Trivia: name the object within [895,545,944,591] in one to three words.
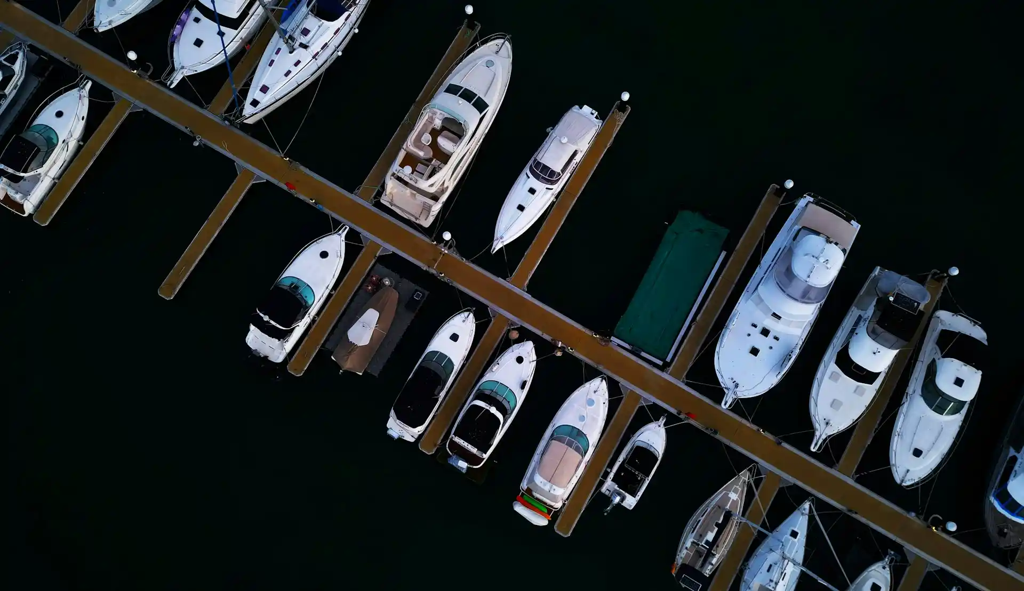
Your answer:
pier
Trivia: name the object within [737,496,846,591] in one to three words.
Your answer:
boat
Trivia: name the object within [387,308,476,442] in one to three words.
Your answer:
boat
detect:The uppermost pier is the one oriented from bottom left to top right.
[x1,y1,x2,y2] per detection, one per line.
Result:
[60,0,96,36]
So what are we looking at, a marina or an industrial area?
marina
